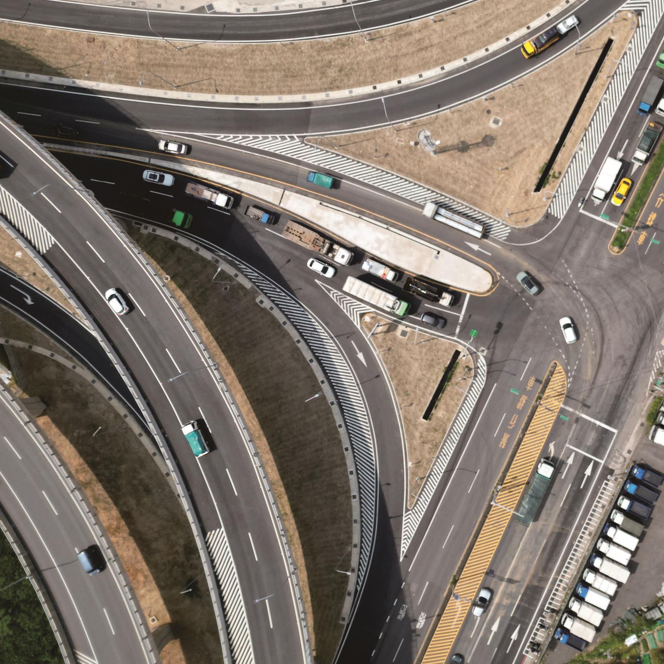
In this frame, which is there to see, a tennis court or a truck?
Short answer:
truck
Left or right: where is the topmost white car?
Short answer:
right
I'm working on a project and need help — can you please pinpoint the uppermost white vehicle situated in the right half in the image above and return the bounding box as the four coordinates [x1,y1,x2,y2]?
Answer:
[556,14,581,35]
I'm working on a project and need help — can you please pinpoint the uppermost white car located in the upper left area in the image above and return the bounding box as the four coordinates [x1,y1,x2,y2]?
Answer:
[158,139,189,154]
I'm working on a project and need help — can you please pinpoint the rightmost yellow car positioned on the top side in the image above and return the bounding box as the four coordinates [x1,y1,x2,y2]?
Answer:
[613,177,633,206]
